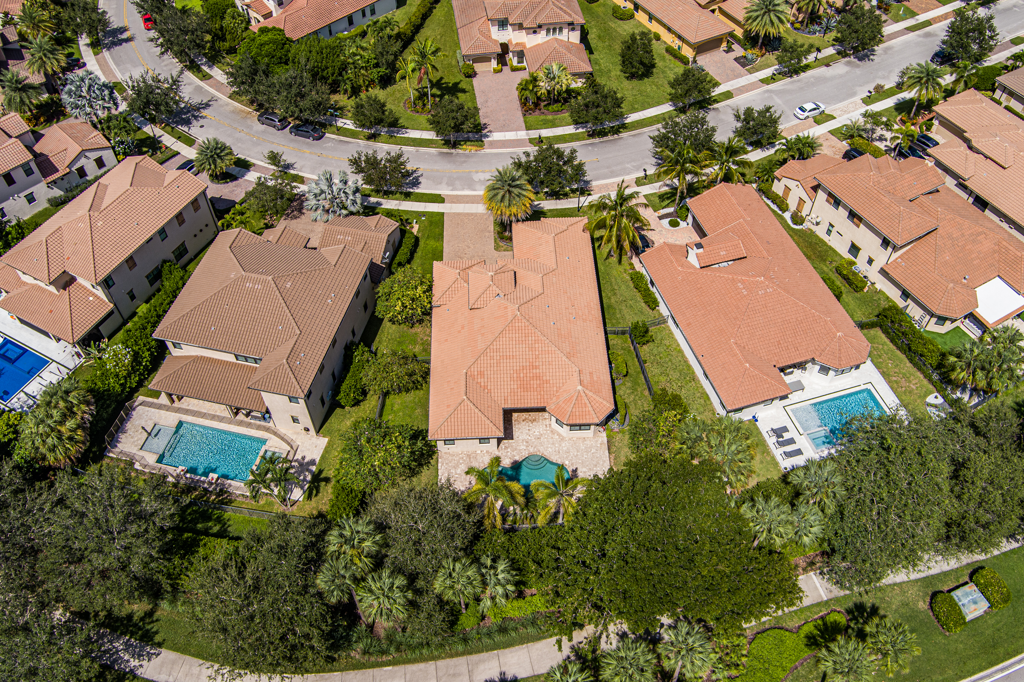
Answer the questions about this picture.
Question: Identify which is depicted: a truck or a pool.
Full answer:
Of the two, only a pool appears.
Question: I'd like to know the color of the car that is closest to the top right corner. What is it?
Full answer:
In this view, the car that is closest to the top right corner is black.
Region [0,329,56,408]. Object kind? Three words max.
swimming pool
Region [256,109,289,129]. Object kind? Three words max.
car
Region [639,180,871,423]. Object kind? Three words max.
house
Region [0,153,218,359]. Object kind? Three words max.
house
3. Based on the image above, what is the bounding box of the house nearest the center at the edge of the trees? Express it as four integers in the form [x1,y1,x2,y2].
[428,215,615,452]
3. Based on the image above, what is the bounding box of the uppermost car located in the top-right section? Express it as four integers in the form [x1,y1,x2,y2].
[929,42,961,64]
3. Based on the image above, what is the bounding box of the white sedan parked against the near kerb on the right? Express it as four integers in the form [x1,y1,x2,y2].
[794,100,829,119]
